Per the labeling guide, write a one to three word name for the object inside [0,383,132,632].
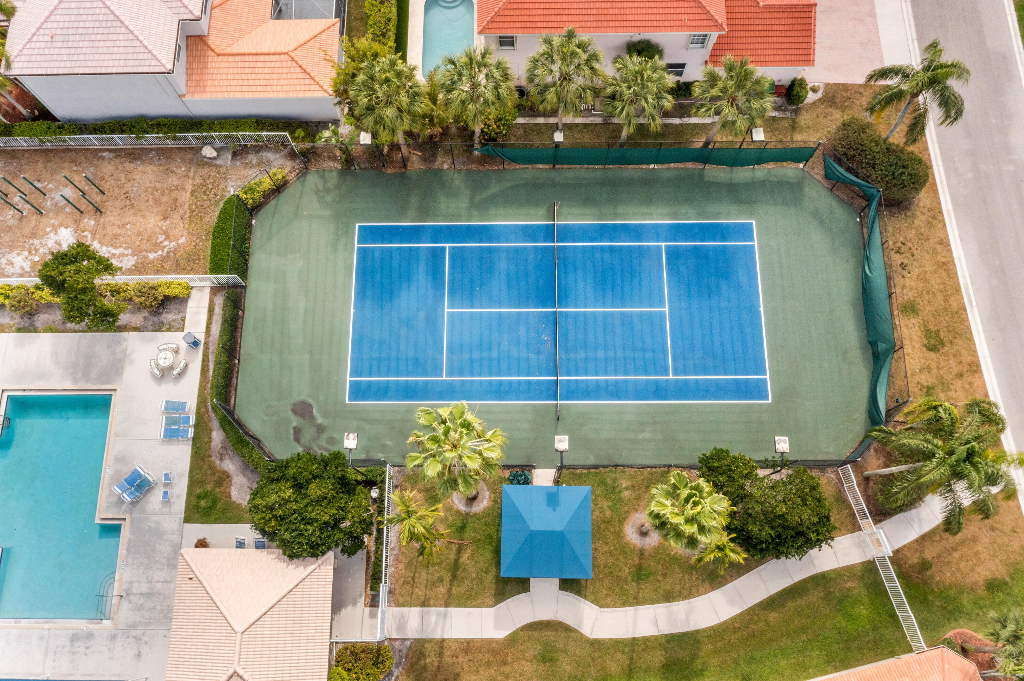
swimming pool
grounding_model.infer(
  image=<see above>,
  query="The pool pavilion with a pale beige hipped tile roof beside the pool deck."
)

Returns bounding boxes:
[165,551,335,681]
